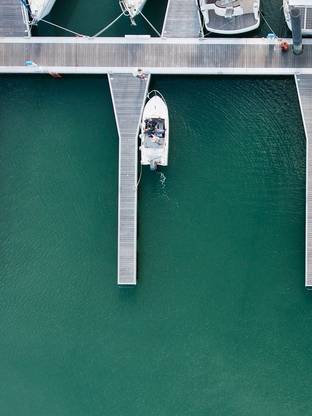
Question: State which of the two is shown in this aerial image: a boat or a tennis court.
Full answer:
It is a boat that can be seen here.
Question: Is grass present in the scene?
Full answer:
No, there's no grass in this view.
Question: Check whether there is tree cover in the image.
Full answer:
No, the scene doesn't show any tree cover.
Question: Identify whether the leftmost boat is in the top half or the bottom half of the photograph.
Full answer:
Seen from above, the leftmost boat lies in the top half of the view.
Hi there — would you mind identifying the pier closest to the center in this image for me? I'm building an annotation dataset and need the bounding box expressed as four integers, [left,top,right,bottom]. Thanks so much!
[108,74,152,286]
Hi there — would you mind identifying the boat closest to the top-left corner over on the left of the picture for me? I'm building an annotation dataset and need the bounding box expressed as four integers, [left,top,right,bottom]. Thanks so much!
[20,0,60,30]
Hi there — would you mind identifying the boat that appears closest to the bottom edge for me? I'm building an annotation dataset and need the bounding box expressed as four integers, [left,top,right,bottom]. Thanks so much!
[141,91,171,171]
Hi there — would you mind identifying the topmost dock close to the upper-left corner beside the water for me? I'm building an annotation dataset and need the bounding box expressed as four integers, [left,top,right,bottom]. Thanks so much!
[0,0,33,37]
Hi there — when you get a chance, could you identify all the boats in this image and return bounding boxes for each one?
[141,91,171,171]
[283,0,312,39]
[200,0,261,36]
[20,0,60,30]
[119,0,148,27]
